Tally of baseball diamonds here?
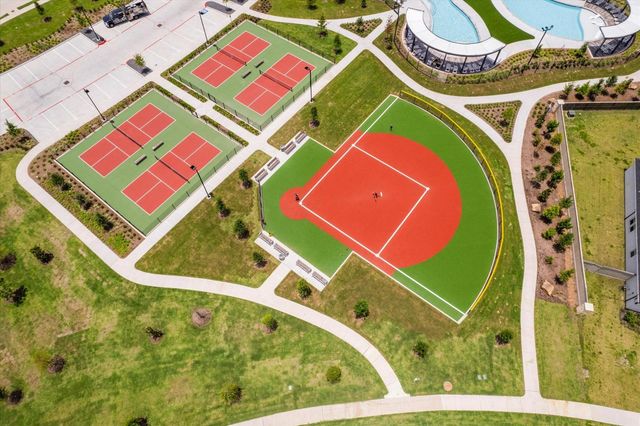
1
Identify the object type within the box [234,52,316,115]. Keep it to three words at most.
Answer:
sports court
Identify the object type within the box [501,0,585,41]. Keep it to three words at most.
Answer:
swimming pool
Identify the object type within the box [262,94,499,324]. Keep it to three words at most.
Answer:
baseball field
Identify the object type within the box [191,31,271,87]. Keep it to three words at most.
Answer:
sports court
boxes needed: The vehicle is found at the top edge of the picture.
[99,0,147,27]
